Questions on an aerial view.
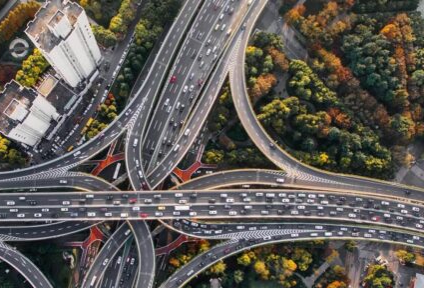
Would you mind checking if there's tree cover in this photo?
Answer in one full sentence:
Yes, tree cover can be seen from above here.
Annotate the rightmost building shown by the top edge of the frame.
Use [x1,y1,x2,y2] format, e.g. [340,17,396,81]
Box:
[23,0,101,87]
